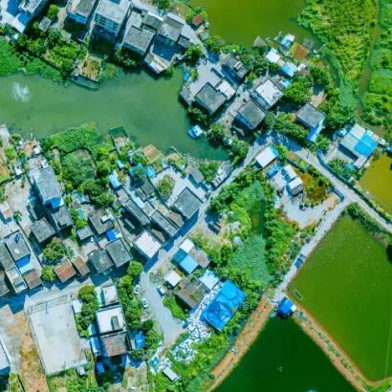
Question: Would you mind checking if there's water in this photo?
Yes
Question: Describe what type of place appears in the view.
residential area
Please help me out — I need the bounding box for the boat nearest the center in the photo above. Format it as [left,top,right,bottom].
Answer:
[188,124,203,137]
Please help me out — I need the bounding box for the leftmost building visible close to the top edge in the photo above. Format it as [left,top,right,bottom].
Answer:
[0,0,29,37]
